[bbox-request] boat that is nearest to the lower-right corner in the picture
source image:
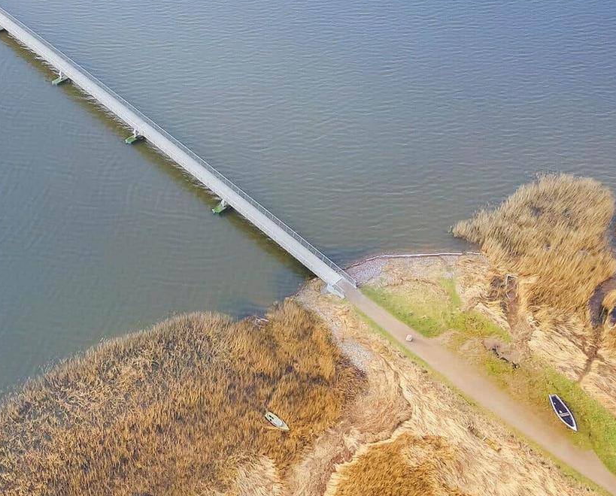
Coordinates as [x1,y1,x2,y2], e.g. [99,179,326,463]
[548,394,578,431]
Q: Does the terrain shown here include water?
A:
Yes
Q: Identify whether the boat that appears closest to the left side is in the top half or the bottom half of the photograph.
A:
bottom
